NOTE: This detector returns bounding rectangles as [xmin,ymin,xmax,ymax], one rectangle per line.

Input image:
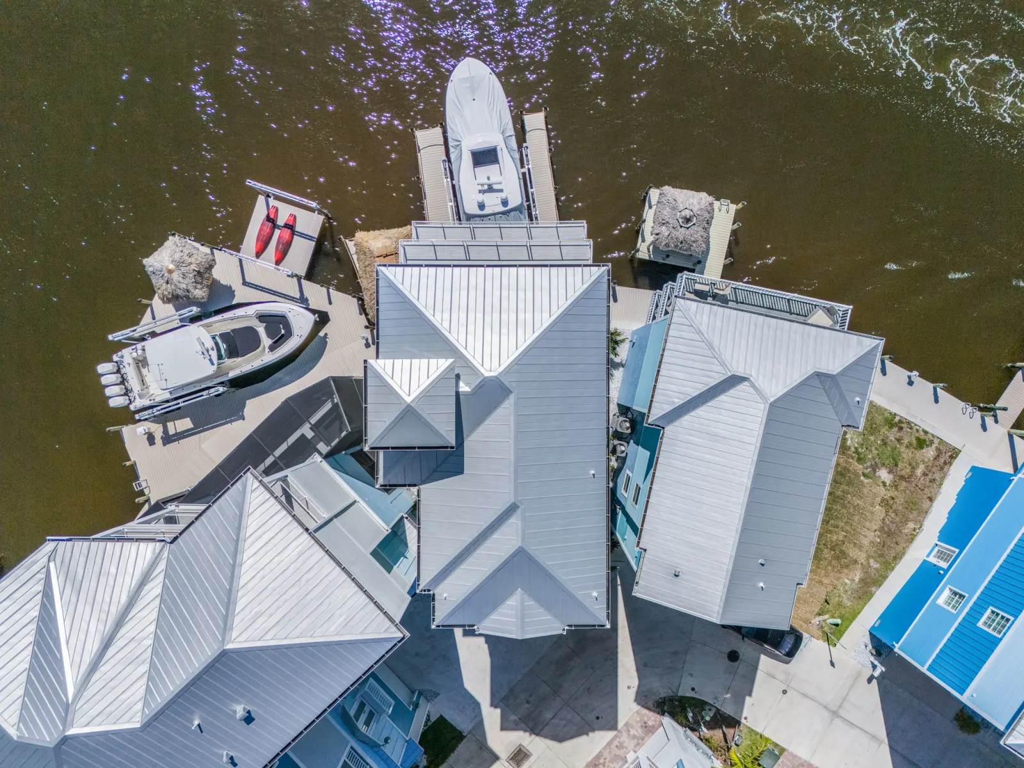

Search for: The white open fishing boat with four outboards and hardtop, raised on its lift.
[98,300,321,409]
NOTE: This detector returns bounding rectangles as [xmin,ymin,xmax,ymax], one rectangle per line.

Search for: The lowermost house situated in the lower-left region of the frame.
[0,438,429,768]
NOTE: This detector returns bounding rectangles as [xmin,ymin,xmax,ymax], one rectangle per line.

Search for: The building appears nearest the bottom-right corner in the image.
[869,462,1024,760]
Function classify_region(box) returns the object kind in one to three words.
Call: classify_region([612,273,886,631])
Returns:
house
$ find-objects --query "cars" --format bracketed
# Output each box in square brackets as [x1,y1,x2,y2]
[716,623,801,661]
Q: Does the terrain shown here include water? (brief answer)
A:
Yes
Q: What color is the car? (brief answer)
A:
black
